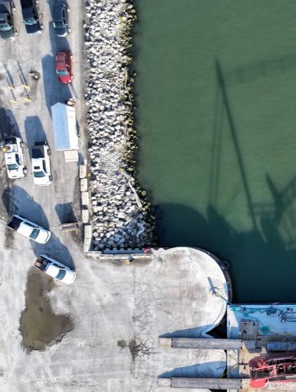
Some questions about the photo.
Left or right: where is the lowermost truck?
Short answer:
left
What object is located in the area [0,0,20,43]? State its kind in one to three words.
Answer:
vehicle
